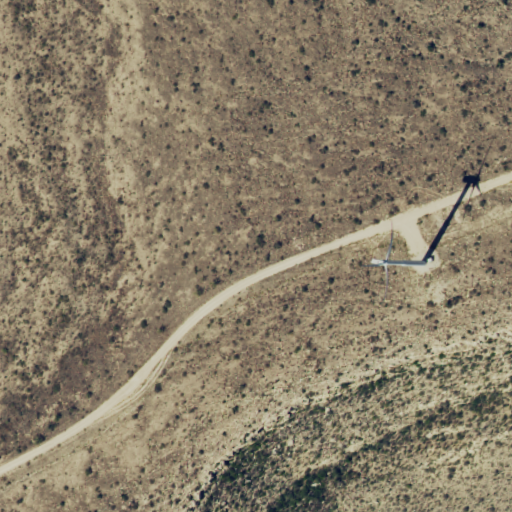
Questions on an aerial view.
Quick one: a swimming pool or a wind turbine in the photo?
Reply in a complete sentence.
The image shows a wind turbine.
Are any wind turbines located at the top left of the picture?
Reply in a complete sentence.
No, I can find no wind turbine at the top left of the picture.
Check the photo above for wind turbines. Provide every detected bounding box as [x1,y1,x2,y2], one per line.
[359,224,430,300]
